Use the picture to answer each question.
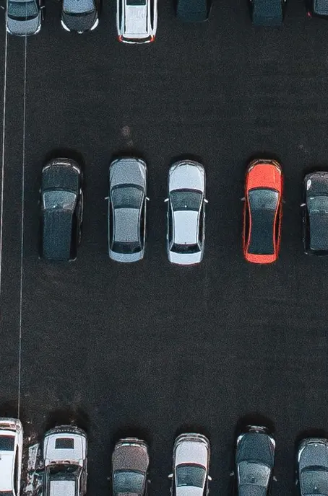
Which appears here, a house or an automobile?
automobile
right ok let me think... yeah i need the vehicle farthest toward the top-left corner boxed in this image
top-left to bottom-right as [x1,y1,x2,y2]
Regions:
[2,0,45,37]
